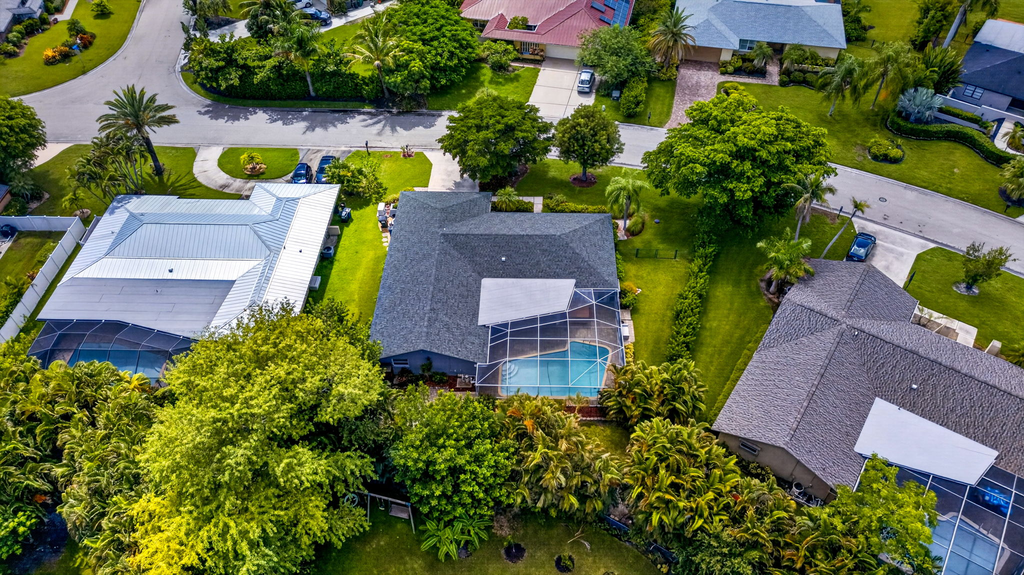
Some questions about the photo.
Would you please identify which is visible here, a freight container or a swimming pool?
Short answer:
swimming pool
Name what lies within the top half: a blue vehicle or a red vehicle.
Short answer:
blue vehicle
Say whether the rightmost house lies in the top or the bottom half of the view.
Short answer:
top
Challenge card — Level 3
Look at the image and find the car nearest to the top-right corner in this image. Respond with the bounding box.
[846,229,877,263]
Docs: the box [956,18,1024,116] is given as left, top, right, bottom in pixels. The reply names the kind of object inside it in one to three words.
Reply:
house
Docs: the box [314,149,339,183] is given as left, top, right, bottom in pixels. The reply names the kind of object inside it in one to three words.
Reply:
car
